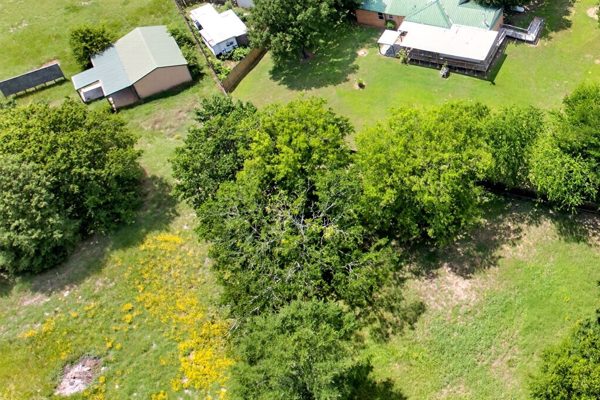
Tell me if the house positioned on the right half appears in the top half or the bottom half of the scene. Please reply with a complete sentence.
Seen from above, the house positioned on the right half lies in the top half of the view.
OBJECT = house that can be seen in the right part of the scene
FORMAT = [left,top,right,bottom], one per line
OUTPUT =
[359,0,548,76]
